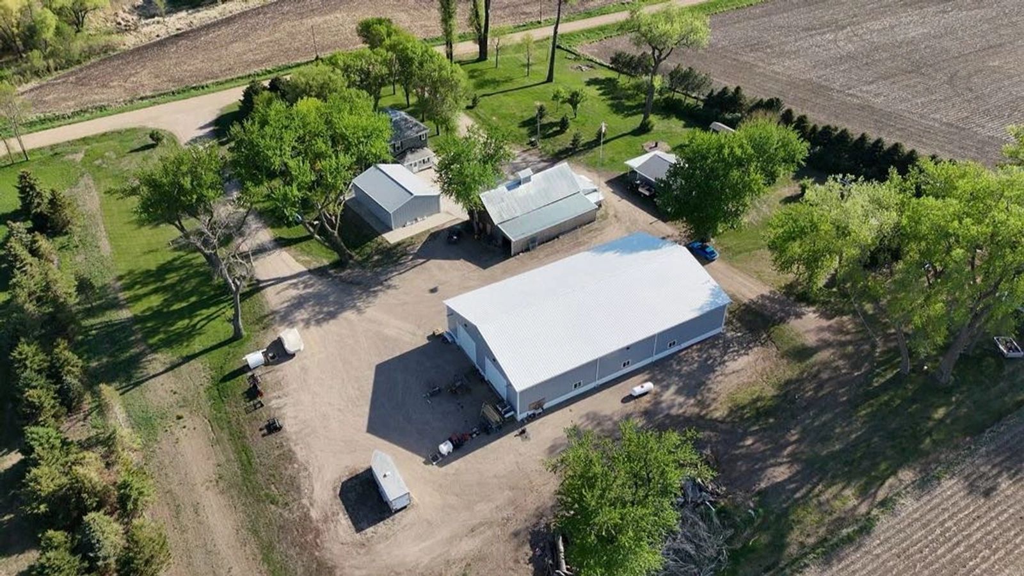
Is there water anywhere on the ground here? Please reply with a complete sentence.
No, no water is visible.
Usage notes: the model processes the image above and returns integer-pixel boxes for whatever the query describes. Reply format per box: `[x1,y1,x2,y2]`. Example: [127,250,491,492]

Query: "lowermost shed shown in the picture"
[442,231,733,423]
